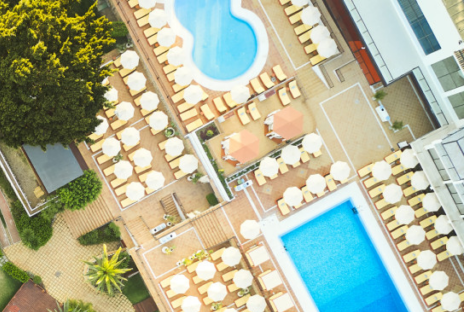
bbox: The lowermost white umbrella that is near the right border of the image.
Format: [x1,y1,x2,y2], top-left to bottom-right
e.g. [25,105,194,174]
[437,291,459,311]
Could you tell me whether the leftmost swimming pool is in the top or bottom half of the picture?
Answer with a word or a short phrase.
top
